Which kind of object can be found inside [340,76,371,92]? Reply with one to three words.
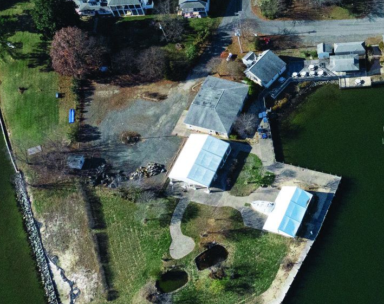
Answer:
pier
